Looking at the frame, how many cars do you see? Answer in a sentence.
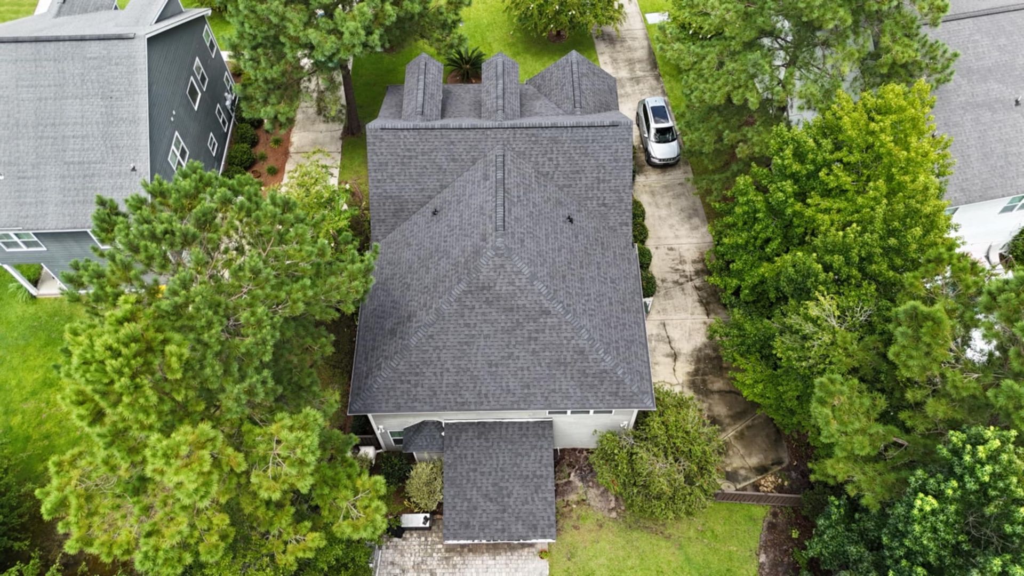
There is 1 car in the image.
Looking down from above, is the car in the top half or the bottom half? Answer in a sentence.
The car sits in the top half of the picture.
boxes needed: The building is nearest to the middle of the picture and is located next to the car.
[348,48,657,546]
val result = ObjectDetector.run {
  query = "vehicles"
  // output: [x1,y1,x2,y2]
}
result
[638,96,687,168]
